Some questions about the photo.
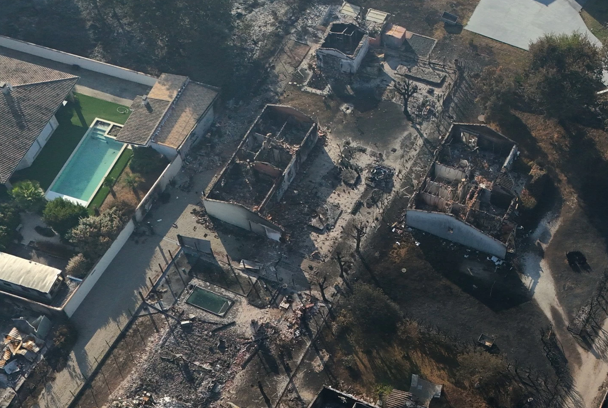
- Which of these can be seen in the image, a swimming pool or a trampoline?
swimming pool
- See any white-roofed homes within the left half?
Yes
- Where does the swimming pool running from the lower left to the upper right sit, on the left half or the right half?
left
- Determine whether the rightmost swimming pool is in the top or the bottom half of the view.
bottom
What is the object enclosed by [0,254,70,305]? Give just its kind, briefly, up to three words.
house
